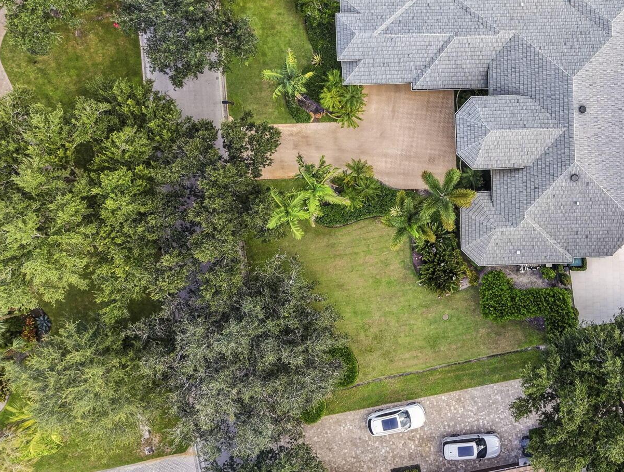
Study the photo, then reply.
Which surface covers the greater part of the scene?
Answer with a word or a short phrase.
trees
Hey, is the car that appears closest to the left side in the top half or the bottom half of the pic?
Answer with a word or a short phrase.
bottom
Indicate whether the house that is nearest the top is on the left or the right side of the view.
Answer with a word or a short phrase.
right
